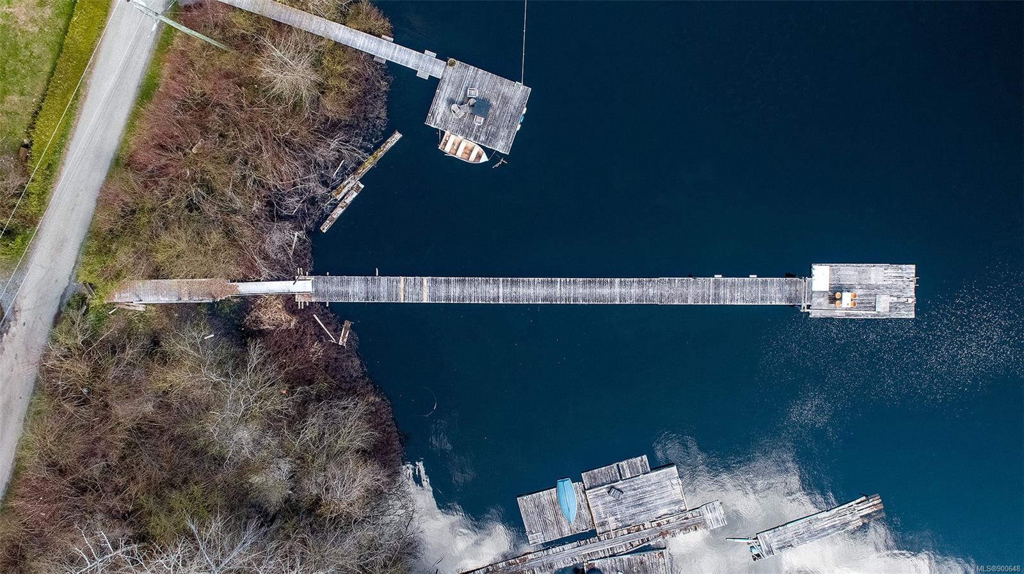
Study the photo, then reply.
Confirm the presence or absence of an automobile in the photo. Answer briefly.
No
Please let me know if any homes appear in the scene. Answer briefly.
No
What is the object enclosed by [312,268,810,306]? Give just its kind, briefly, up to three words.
pier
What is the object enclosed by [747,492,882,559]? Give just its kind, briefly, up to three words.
pier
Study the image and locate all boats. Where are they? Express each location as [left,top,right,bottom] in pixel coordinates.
[556,475,578,525]
[439,132,489,162]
